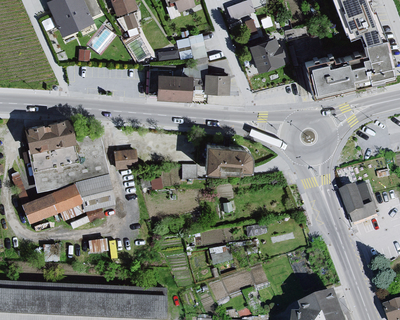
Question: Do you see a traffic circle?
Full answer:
Yes, the image includes a traffic circle.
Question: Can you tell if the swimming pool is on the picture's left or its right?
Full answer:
The swimming pool sits on the left side.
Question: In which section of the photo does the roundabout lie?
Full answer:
The roundabout sits in the right section of the image.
